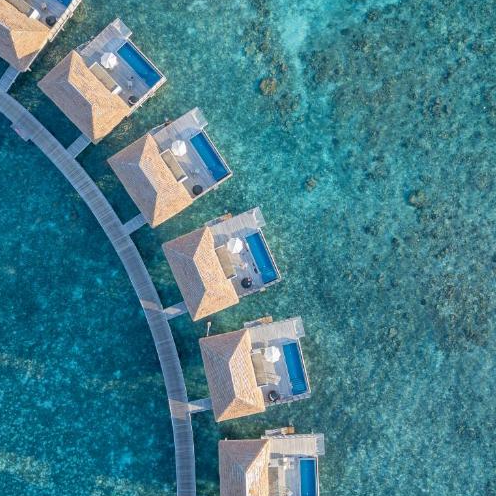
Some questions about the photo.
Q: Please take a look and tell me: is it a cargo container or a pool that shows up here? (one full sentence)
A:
Visible in the photo is a pool.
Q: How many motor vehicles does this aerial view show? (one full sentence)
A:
I count no motor vehicles.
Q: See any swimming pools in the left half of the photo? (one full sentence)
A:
Yes, in the left half of the photo there is a swimming pool.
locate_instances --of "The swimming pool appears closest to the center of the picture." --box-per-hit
[244,228,282,287]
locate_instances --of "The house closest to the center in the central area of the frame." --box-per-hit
[162,206,286,321]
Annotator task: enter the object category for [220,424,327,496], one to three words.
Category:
house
